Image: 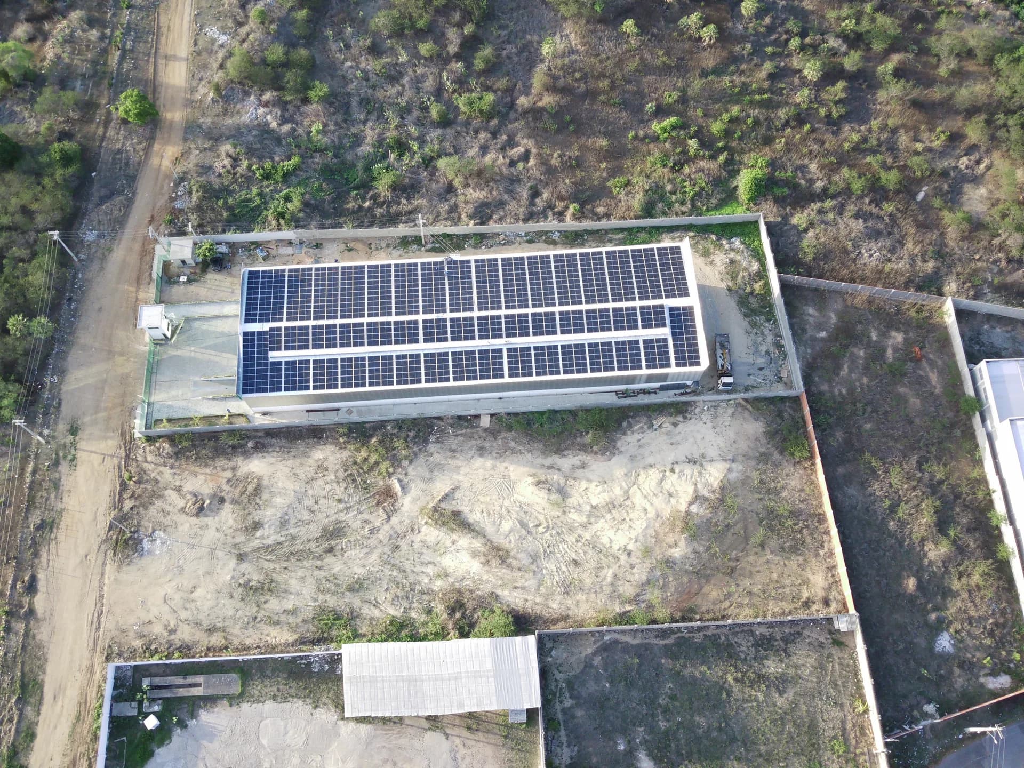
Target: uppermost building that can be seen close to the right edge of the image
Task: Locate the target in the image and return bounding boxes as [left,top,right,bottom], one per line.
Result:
[971,358,1024,444]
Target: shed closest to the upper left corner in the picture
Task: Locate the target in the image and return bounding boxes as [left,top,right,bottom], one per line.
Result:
[169,238,197,266]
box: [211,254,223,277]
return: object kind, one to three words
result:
vehicle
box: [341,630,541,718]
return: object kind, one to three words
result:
shed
